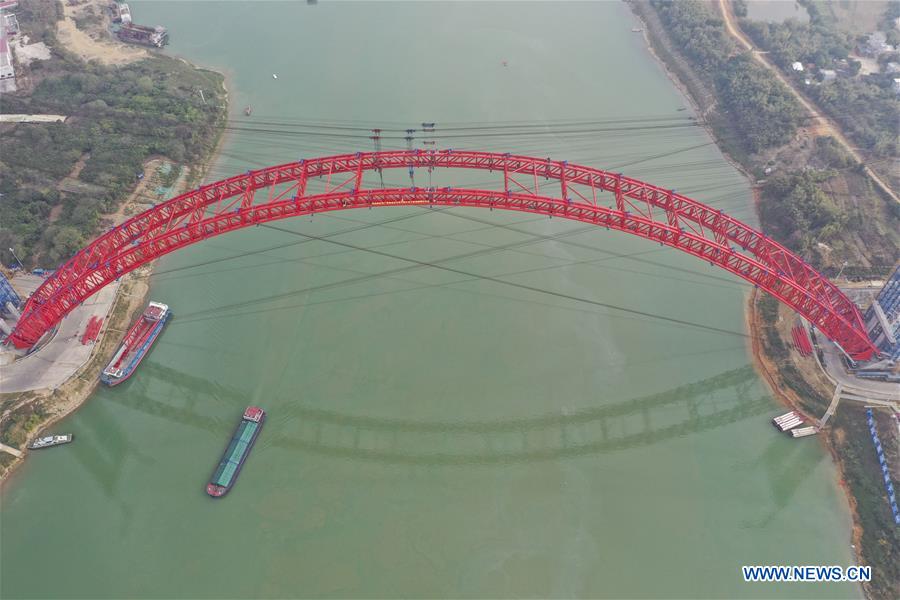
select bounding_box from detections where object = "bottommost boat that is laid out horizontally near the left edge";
[27,433,74,450]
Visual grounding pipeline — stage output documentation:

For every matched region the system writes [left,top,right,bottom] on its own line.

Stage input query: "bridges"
[0,148,888,365]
